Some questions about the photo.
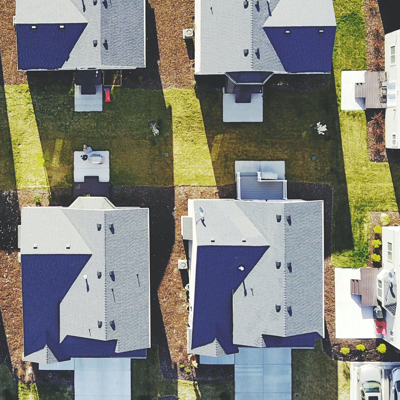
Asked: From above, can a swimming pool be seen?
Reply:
No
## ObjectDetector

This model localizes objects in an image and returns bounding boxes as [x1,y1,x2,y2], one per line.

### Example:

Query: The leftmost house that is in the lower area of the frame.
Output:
[17,194,151,364]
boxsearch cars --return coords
[387,365,400,400]
[356,362,383,400]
